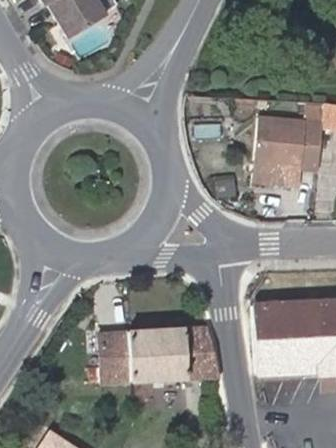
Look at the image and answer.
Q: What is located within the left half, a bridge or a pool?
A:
pool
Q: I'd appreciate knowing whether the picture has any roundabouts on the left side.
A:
Yes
